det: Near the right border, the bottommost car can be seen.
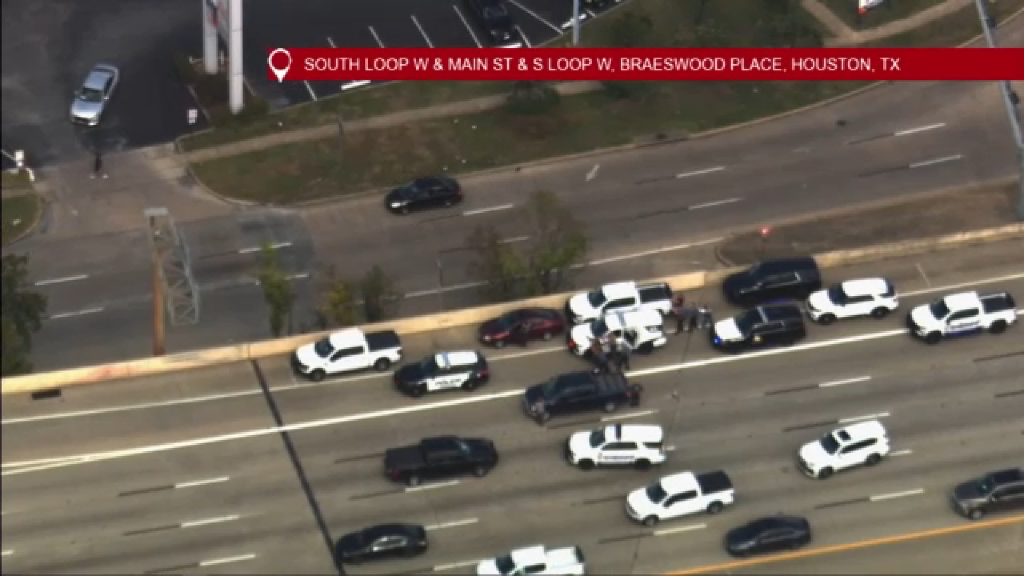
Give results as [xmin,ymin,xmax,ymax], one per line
[950,470,1024,520]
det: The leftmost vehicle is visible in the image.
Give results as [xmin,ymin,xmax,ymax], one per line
[71,70,119,126]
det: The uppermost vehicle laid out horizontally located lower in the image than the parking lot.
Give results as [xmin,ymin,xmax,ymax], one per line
[384,179,465,216]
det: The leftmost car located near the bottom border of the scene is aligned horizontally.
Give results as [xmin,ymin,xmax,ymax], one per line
[334,523,431,566]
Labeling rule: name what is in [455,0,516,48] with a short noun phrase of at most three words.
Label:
truck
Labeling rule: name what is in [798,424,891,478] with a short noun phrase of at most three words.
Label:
car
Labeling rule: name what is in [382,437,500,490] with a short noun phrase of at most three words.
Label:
truck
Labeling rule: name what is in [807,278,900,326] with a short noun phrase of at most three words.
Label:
car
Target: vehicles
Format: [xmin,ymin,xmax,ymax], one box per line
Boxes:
[950,470,1024,520]
[567,308,668,362]
[334,523,431,566]
[564,422,668,473]
[626,474,736,528]
[290,331,403,383]
[565,283,674,328]
[476,548,589,576]
[478,310,567,353]
[394,349,490,399]
[906,293,1018,346]
[723,517,815,560]
[382,437,500,490]
[455,0,516,48]
[798,424,891,478]
[722,253,823,307]
[807,278,900,326]
[71,70,119,126]
[384,179,465,216]
[711,304,806,354]
[523,371,633,423]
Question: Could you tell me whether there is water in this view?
No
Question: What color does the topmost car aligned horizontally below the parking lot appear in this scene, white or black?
black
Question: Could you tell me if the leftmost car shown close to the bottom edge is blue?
No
